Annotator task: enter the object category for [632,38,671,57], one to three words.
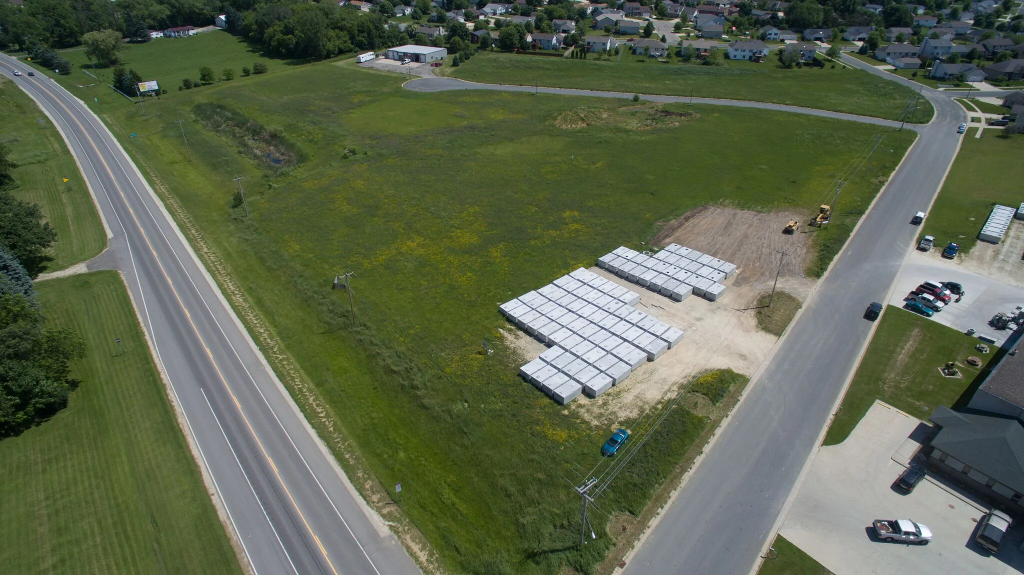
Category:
house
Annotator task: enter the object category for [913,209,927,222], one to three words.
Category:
vehicle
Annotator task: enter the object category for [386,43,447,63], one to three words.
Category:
building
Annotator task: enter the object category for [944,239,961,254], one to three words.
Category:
vehicle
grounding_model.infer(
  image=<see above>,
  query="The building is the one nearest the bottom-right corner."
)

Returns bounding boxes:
[925,405,1024,516]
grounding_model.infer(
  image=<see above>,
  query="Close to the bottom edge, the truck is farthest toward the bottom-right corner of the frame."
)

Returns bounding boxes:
[978,507,1015,547]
